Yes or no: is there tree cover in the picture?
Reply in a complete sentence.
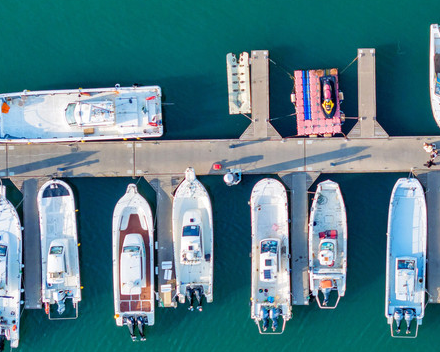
No, the scene doesn't show any tree cover.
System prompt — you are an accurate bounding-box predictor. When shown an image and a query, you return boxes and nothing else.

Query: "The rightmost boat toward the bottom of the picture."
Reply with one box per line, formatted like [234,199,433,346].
[385,178,428,338]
